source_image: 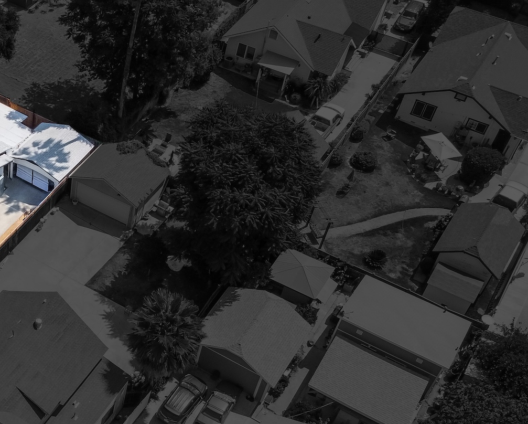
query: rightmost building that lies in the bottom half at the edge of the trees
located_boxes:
[423,201,526,317]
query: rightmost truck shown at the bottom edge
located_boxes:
[194,383,239,424]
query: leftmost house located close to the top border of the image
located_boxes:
[221,0,396,98]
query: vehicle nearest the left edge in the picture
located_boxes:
[155,375,204,424]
